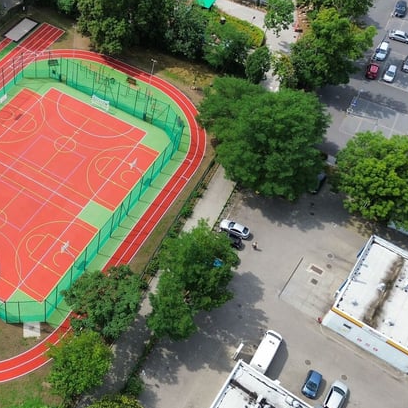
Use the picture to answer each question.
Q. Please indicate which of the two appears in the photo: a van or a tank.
van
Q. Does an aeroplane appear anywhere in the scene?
No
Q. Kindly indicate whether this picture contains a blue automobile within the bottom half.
Yes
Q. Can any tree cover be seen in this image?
Yes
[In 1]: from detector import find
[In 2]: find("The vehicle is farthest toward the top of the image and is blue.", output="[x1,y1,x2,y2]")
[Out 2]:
[395,0,407,14]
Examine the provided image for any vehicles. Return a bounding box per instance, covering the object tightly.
[219,221,251,241]
[383,64,398,81]
[395,0,407,14]
[301,368,324,400]
[389,32,408,45]
[325,380,349,408]
[218,232,246,251]
[376,43,390,58]
[401,55,408,71]
[248,330,281,373]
